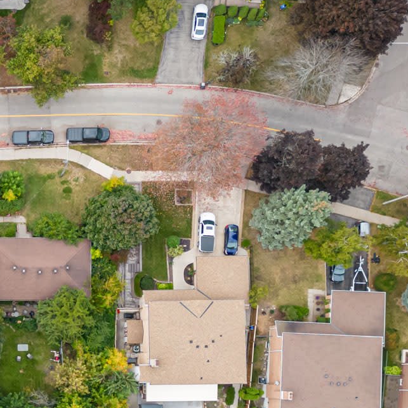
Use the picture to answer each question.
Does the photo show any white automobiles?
Yes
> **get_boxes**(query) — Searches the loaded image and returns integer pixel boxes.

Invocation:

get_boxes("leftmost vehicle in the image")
[12,127,54,145]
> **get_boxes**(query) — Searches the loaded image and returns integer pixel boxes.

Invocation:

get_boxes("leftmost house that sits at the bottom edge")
[126,255,250,401]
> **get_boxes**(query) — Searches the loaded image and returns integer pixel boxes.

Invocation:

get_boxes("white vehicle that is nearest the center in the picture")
[197,212,216,253]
